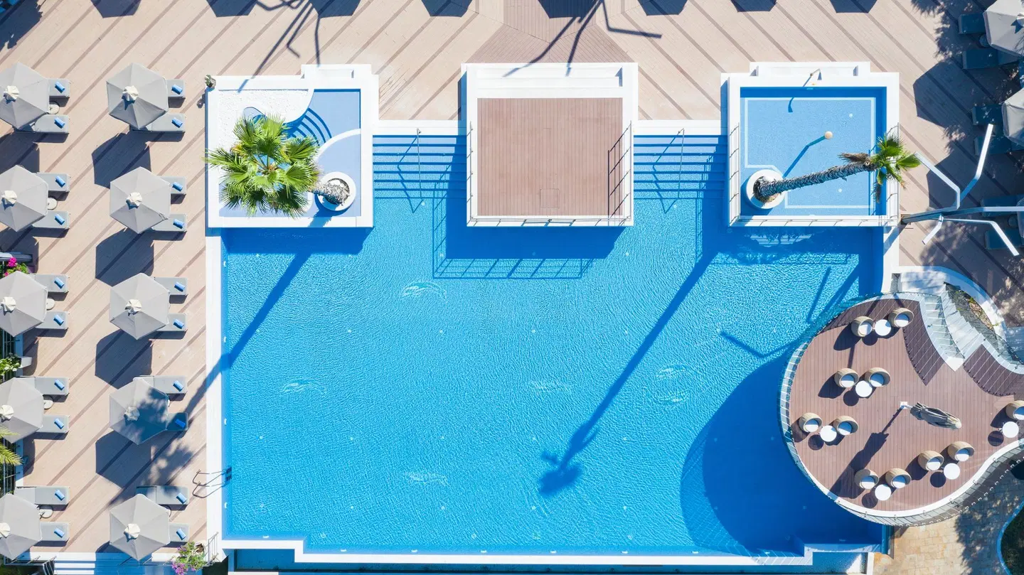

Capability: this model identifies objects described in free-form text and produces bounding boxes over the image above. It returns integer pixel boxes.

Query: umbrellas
[0,492,52,561]
[0,164,58,233]
[0,376,54,445]
[109,493,171,562]
[976,0,1024,58]
[0,61,59,130]
[992,90,1024,149]
[0,270,57,338]
[108,376,170,445]
[109,166,171,234]
[107,61,169,130]
[110,272,171,340]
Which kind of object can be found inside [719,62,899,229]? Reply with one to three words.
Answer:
swimming pool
